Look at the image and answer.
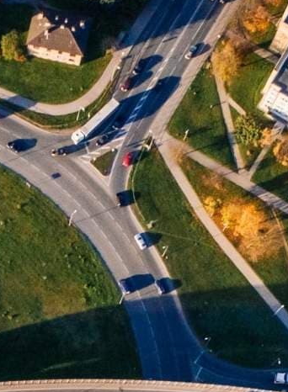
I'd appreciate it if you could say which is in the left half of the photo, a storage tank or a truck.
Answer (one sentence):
The feature located in the left half of the photo is a truck.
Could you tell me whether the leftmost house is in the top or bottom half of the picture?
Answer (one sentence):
The leftmost house is in the top half of the image.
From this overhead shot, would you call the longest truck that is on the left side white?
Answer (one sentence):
Yes, the longest truck that is on the left side is indeed white.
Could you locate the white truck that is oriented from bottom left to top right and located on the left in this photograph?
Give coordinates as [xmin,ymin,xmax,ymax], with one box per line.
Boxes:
[69,95,125,146]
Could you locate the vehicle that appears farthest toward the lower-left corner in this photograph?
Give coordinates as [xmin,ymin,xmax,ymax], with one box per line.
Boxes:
[119,277,132,294]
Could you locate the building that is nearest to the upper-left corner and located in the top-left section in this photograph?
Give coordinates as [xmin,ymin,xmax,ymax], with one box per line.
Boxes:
[26,11,94,64]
